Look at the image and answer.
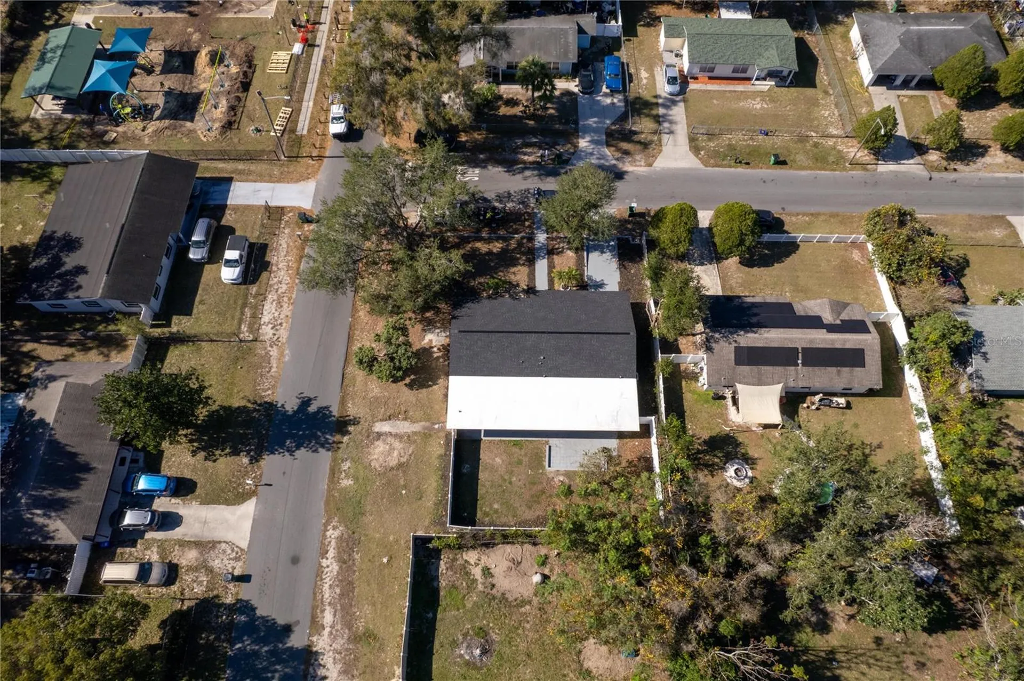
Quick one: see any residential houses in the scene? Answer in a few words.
Yes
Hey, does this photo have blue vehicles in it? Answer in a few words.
Yes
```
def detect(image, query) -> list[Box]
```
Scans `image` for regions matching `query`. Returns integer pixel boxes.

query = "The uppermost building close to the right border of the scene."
[848,11,1007,90]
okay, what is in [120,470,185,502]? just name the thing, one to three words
car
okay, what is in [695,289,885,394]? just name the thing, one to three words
house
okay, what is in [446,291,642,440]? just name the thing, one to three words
house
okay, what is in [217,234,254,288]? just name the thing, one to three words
truck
